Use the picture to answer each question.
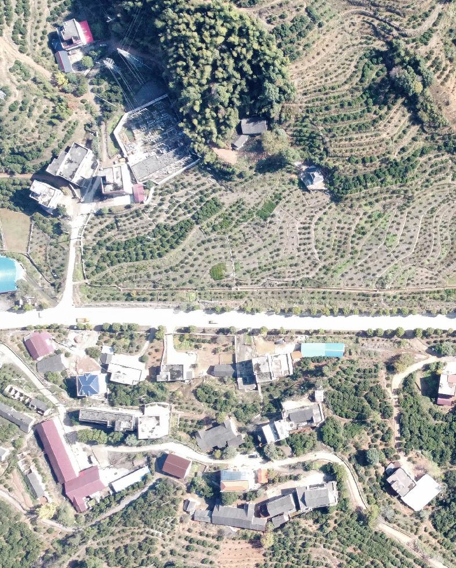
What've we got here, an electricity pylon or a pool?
electricity pylon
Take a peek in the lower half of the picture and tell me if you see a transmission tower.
No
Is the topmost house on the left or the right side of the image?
left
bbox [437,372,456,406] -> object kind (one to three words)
house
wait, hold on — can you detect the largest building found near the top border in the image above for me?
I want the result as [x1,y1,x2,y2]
[60,20,99,51]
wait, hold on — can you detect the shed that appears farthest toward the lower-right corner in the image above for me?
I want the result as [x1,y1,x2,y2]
[401,473,440,510]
